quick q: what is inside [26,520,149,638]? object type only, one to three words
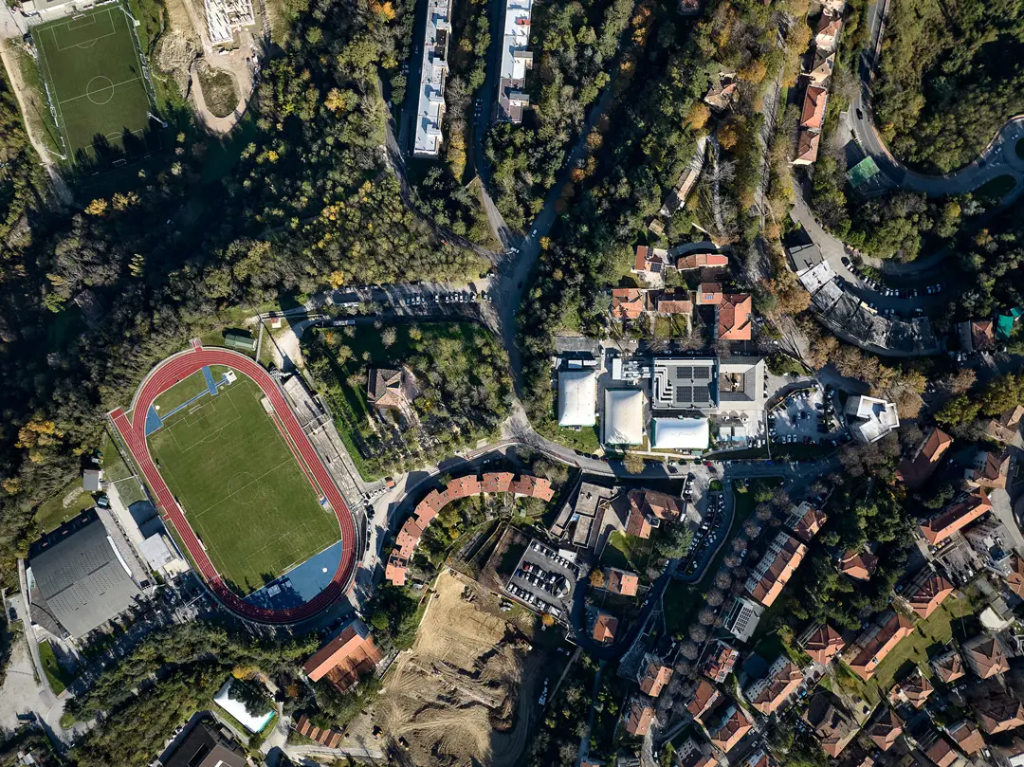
building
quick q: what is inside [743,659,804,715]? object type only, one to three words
building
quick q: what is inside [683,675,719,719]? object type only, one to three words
house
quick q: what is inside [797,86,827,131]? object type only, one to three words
house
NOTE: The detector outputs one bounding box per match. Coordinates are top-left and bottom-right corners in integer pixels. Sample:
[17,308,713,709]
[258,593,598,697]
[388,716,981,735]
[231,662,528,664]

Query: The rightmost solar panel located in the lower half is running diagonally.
[727,608,761,638]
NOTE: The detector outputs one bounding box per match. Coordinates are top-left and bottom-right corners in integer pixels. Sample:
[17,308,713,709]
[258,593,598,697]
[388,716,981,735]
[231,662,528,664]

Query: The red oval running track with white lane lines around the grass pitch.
[110,340,359,627]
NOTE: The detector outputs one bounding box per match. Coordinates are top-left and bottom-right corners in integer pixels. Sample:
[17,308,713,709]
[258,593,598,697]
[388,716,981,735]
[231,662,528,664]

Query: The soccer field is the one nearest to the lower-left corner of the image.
[145,366,341,608]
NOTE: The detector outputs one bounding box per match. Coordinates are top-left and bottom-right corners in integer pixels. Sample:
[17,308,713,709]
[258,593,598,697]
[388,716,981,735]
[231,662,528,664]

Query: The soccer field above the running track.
[32,0,168,182]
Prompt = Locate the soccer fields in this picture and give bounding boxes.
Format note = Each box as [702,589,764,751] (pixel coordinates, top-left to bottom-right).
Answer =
[145,366,341,608]
[32,0,168,182]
